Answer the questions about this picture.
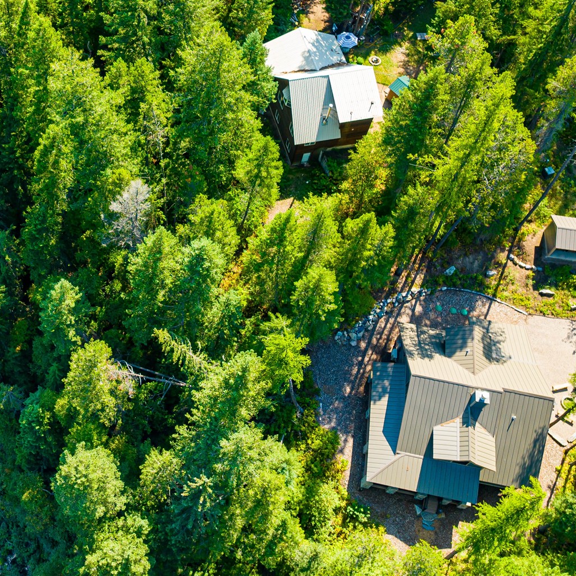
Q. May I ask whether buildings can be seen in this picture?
Yes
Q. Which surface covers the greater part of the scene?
trees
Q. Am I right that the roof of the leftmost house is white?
Yes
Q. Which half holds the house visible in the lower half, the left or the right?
right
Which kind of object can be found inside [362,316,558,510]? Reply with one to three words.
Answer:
house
